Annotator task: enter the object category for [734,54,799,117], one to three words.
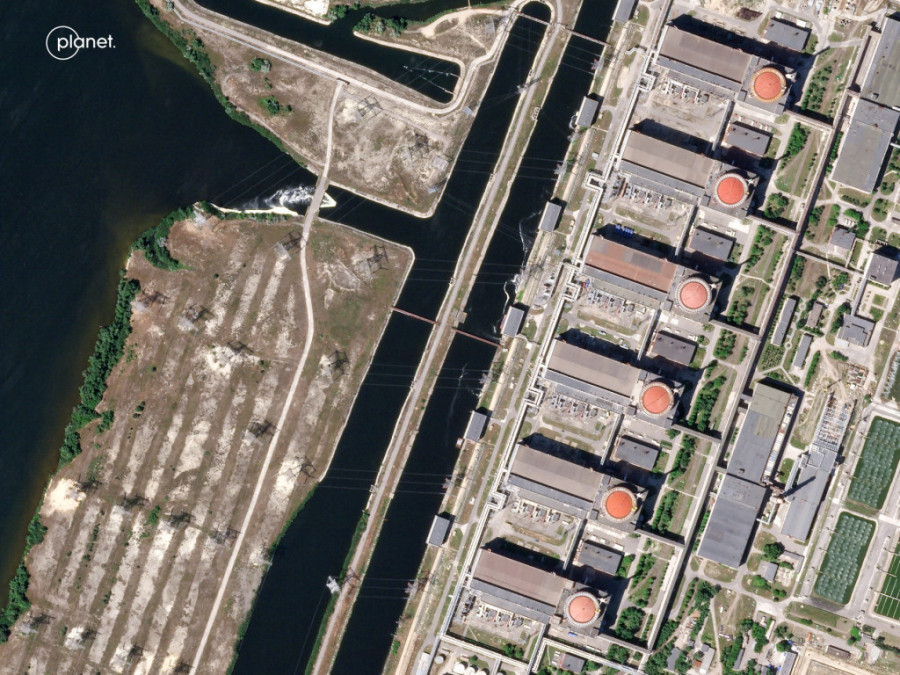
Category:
building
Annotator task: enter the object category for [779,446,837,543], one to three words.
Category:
building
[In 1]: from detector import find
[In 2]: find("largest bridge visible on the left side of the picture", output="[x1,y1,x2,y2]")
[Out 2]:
[301,173,328,234]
